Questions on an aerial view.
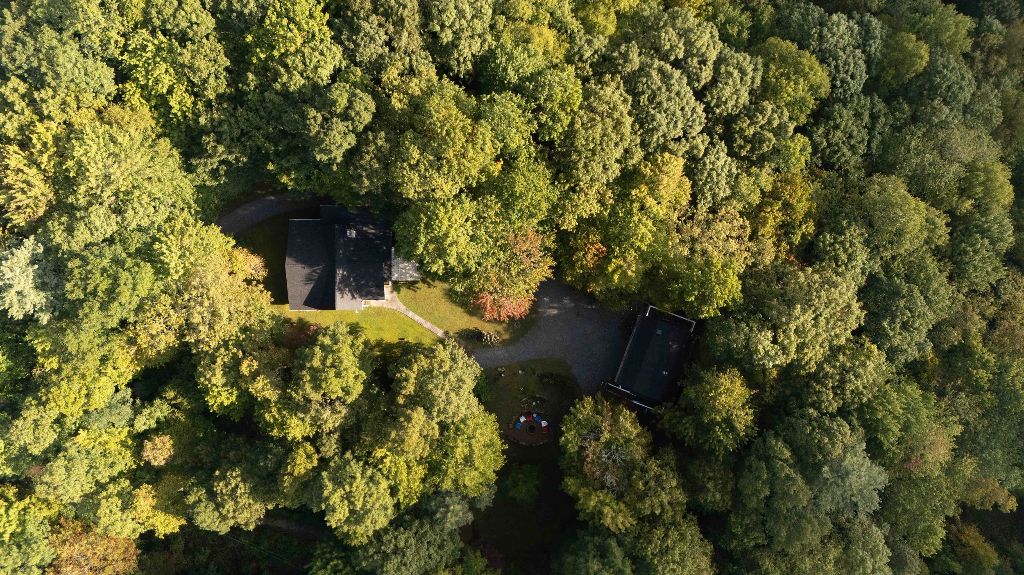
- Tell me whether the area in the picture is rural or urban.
rural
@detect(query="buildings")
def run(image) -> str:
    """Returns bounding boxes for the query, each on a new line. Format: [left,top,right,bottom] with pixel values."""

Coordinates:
[615,314,699,402]
[285,205,392,314]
